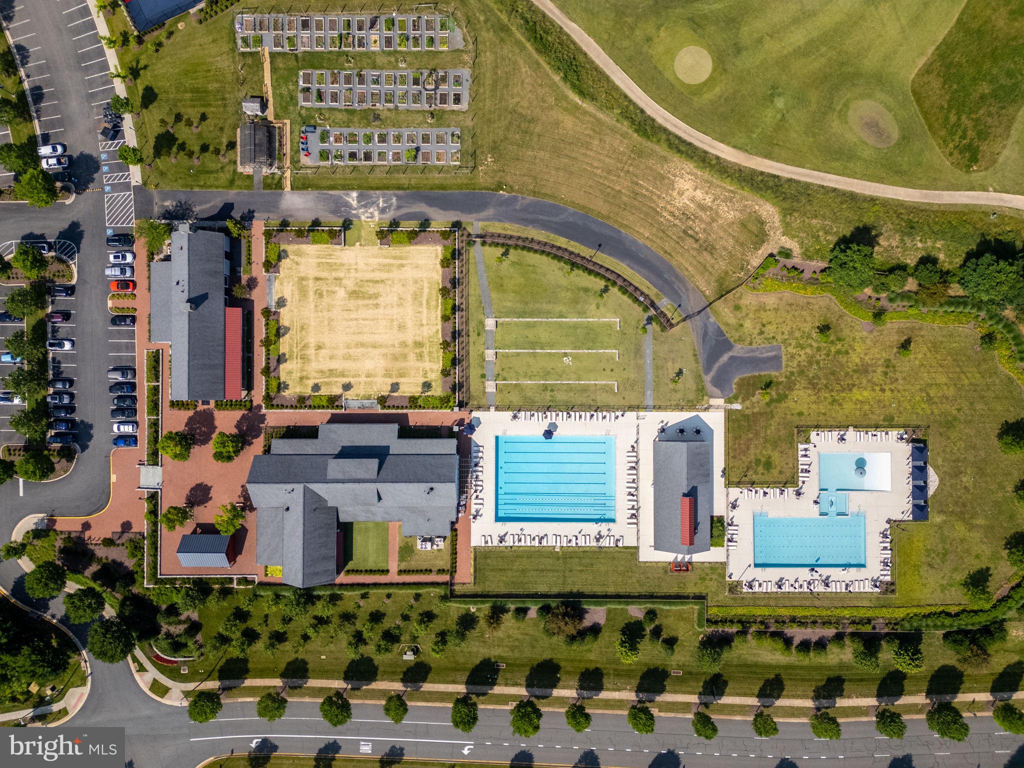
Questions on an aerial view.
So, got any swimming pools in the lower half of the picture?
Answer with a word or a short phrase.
Yes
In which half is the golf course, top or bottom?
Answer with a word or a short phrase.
top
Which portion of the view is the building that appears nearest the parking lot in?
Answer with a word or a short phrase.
left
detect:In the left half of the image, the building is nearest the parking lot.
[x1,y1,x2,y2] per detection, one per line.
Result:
[150,224,247,400]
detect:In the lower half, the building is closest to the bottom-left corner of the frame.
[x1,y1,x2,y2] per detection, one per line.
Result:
[177,533,237,567]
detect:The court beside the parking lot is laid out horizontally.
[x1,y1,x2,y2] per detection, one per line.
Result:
[125,0,204,32]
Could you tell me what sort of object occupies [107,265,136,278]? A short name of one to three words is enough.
vehicle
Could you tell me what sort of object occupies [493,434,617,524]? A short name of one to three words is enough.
swimming pool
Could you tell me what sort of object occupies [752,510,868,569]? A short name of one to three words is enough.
swimming pool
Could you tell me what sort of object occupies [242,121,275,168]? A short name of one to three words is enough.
greenhouse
